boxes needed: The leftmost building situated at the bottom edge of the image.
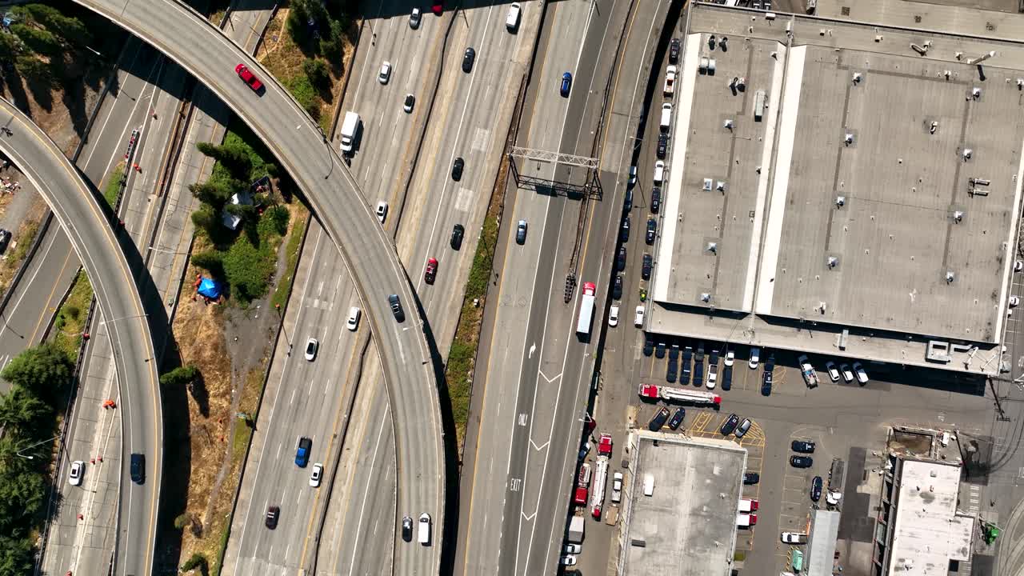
[616,430,748,576]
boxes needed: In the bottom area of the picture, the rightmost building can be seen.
[869,455,974,576]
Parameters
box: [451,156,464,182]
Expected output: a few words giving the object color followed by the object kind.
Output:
black vehicle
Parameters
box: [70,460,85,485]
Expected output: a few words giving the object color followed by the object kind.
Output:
white car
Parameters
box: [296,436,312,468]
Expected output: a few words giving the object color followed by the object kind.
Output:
blue vehicle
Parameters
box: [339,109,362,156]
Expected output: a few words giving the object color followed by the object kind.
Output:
white truck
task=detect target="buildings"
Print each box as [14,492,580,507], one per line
[797,504,840,576]
[869,455,974,576]
[616,430,748,576]
[640,1,1024,375]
